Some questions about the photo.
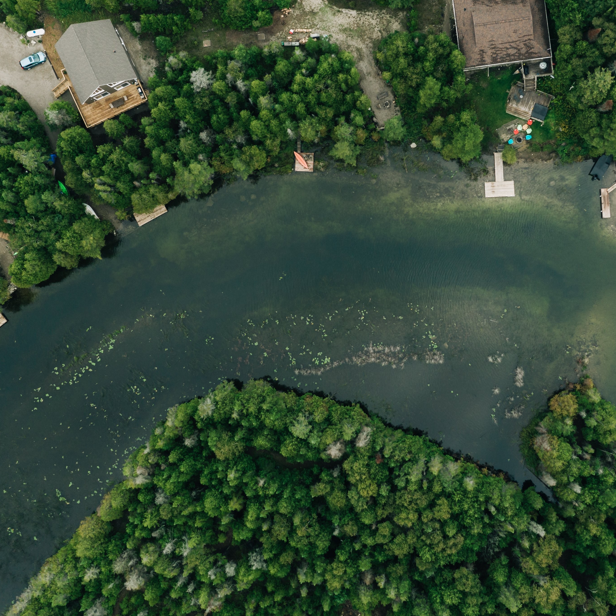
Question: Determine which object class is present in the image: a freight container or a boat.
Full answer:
It is a boat that can be seen here.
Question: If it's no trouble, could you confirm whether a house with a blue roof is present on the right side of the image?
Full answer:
No, no house with a blue roof is visible on the right side of the image.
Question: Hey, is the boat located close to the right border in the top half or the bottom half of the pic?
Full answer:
The boat located close to the right border is in the top half of the image.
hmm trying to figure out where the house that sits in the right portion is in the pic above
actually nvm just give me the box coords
[453,0,555,123]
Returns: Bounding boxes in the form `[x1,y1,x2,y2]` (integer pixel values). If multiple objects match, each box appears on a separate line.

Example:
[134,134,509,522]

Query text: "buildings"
[49,19,155,128]
[453,0,555,123]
